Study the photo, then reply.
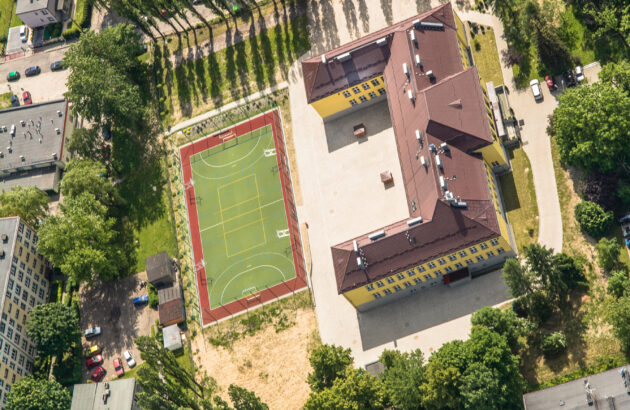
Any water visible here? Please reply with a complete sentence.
No, the picture contains no water.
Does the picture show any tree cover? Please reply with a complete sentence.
Yes, there is tree cover in the image.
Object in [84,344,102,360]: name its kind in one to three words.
vehicle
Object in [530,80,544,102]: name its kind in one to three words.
vehicle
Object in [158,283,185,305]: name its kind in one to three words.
shed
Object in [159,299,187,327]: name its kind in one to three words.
shed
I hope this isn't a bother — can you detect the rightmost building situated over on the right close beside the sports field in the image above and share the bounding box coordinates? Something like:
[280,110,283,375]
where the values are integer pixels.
[301,2,519,314]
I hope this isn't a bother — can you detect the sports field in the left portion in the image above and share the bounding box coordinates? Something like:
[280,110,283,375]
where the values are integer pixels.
[179,107,310,328]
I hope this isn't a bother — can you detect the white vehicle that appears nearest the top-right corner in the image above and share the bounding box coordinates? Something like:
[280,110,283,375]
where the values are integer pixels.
[573,64,586,83]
